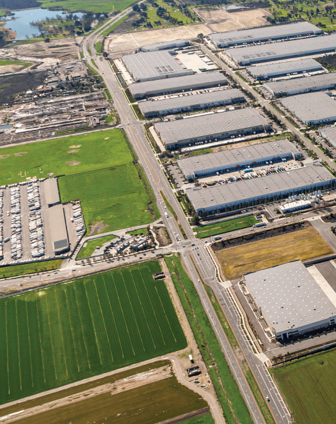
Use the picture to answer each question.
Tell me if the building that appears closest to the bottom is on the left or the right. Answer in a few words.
right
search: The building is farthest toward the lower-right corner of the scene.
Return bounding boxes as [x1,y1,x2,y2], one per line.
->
[243,260,336,341]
